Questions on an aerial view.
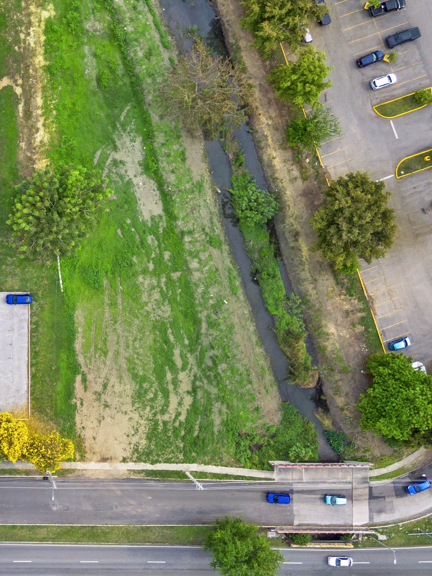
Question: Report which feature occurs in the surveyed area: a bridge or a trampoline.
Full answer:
The image shows a bridge.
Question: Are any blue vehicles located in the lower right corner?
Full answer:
Yes, I can see a blue vehicle in the lower right corner.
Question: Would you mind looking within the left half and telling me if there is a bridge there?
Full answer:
No, I see no bridge within the left half.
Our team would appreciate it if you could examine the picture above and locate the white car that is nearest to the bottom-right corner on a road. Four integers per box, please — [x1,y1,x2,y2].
[326,555,352,568]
